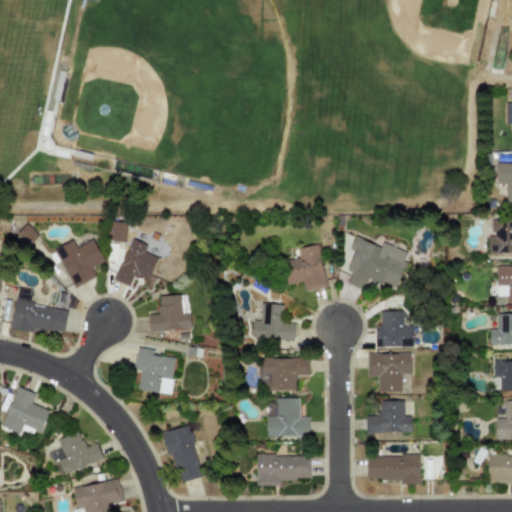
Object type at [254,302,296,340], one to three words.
house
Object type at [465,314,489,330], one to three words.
swimming pool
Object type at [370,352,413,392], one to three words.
house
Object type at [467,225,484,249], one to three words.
swimming pool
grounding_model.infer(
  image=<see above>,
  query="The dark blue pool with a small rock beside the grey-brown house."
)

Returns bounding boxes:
[462,420,482,439]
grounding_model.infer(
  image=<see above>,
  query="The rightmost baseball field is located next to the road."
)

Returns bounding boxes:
[274,0,490,212]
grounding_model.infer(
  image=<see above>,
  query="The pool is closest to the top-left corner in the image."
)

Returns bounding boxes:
[48,225,71,240]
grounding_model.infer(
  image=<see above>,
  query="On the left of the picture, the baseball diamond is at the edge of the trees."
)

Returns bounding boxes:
[54,0,290,187]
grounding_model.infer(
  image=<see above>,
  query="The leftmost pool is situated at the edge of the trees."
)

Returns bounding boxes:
[19,270,40,288]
